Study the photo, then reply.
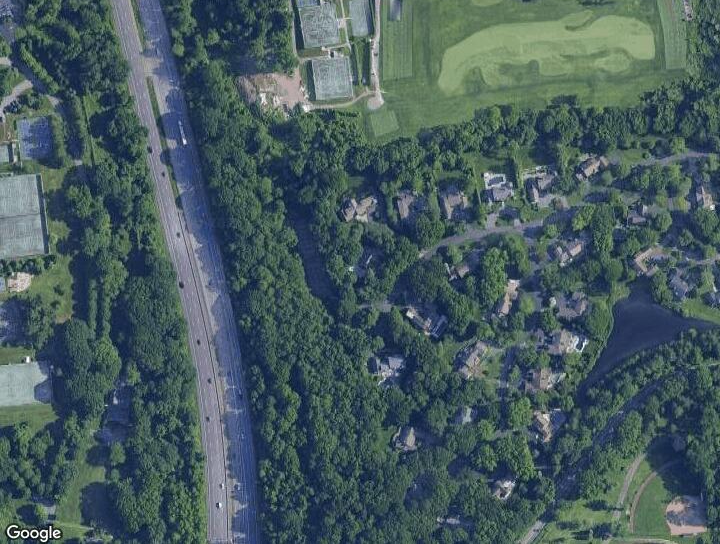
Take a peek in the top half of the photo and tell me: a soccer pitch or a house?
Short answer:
house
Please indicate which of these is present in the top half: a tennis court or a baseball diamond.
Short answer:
tennis court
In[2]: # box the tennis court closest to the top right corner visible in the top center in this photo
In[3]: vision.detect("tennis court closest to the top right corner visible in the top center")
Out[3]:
[350,0,373,37]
